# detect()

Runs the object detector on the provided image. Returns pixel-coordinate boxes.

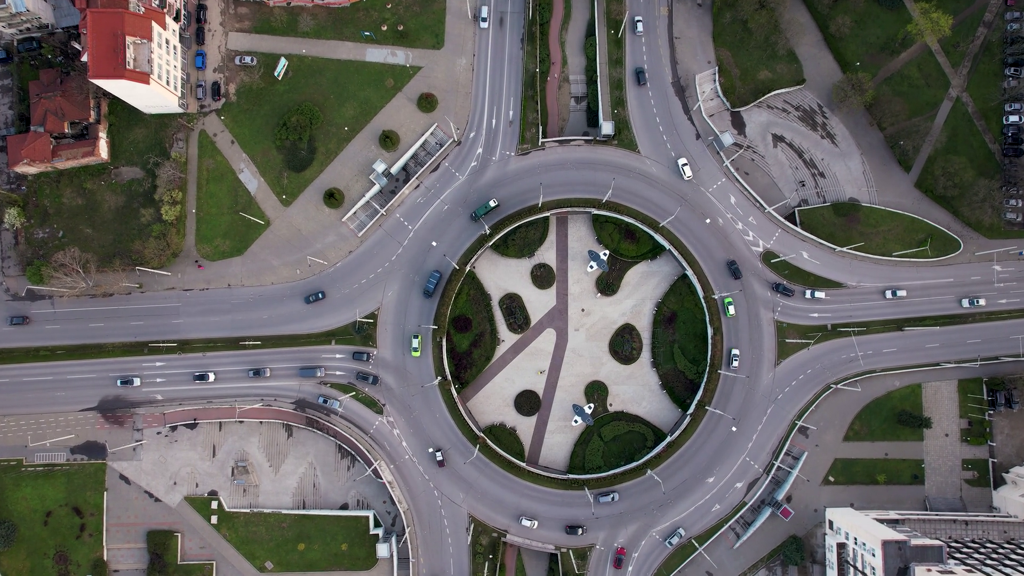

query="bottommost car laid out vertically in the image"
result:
[613,545,626,570]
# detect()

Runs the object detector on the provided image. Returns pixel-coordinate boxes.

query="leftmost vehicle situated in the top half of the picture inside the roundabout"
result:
[470,198,499,222]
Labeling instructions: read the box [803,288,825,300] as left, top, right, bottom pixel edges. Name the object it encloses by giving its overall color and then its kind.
white vehicle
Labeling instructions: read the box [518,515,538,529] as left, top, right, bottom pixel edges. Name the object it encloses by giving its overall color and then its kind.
white car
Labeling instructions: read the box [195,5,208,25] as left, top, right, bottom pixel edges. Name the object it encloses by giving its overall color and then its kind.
black vehicle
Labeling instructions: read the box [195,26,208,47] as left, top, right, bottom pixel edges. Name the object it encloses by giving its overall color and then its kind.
black vehicle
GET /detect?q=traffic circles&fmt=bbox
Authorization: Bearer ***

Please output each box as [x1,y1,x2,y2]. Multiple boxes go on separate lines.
[379,149,776,547]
